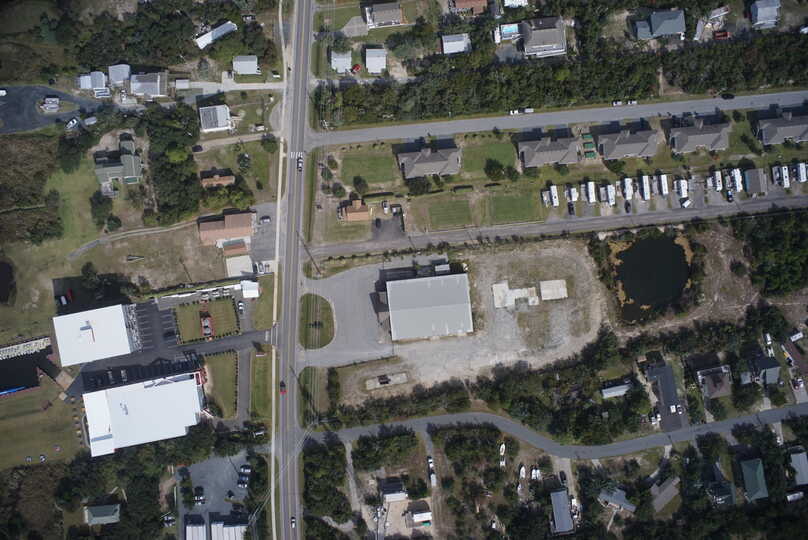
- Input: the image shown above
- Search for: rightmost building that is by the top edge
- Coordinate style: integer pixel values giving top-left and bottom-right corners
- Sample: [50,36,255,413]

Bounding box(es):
[750,0,780,30]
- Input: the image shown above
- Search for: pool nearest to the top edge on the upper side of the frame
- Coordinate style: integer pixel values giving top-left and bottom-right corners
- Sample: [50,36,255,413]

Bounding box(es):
[501,23,518,39]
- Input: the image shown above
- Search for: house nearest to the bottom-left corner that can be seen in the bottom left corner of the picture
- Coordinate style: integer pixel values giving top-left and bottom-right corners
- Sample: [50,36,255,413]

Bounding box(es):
[84,504,122,524]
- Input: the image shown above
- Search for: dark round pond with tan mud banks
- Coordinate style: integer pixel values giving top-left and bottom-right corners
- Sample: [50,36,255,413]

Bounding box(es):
[612,234,692,323]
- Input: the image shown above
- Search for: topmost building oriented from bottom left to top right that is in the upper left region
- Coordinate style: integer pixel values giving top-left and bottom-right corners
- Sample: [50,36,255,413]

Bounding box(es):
[196,21,236,51]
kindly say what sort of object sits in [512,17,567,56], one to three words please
house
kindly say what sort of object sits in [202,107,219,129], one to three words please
solar panel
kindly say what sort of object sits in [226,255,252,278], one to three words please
building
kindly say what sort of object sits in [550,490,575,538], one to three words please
house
